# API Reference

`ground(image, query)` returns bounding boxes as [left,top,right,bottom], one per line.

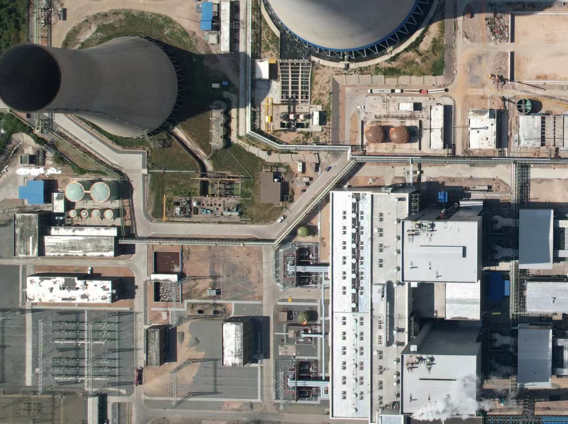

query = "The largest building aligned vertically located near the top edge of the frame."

[220,1,234,53]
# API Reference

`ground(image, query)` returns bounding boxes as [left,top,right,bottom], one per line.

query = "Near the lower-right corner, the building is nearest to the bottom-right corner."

[515,325,553,389]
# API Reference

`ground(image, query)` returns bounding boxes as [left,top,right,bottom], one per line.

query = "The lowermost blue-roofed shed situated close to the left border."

[19,180,49,204]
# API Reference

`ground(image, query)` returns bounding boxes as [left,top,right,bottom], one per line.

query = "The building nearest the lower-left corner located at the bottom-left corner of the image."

[88,395,102,424]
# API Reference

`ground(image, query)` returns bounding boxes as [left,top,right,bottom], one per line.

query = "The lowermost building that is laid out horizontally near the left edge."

[26,273,126,303]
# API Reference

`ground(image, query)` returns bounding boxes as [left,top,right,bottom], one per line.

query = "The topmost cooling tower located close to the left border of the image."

[0,32,188,144]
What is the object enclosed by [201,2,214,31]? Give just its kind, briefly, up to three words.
shed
